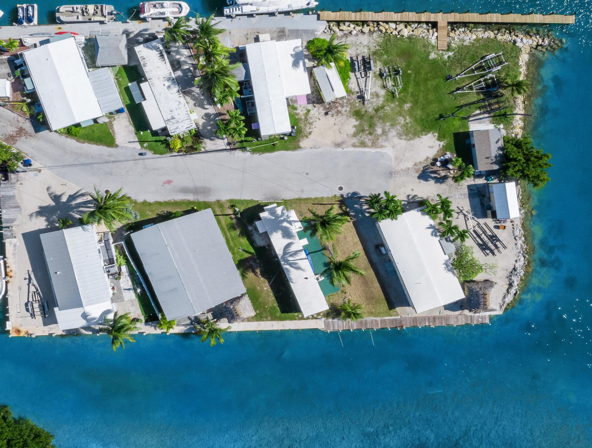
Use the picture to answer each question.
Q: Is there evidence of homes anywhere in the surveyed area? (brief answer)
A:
Yes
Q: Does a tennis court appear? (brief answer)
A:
No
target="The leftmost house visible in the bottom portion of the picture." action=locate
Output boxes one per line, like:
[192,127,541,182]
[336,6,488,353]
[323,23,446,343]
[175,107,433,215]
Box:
[39,225,120,331]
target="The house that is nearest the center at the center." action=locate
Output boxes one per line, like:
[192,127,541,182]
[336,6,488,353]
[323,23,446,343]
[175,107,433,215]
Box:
[255,203,330,317]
